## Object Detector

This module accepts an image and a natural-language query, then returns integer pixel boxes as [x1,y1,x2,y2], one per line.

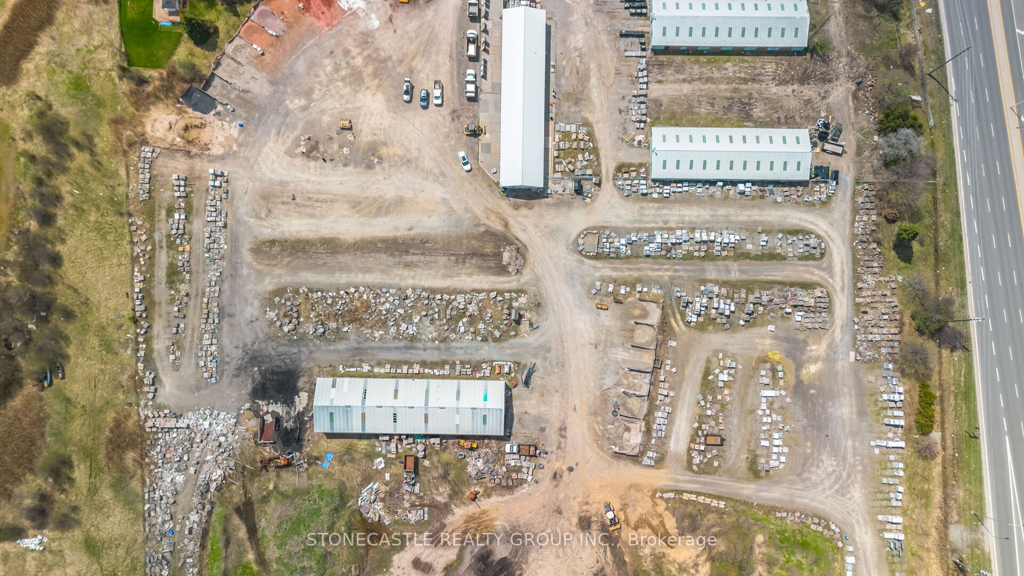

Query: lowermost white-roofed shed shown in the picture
[314,377,504,436]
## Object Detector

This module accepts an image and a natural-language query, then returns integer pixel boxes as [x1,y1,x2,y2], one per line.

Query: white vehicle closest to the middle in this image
[457,151,472,174]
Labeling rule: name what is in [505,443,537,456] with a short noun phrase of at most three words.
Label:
vehicle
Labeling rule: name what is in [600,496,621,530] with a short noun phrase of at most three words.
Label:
work vehicle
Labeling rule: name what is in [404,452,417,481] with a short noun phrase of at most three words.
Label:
vehicle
